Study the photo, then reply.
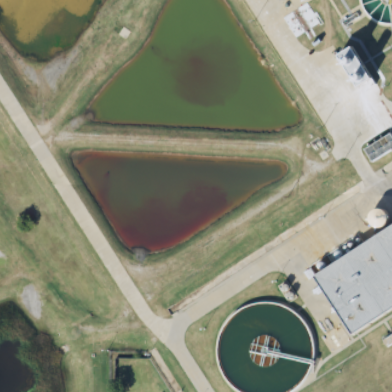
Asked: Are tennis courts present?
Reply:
No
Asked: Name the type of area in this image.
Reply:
industrial area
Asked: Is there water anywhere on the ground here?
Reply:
Yes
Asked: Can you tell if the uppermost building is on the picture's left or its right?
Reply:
right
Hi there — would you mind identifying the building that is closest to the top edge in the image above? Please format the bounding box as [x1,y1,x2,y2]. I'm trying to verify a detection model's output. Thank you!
[284,4,324,40]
